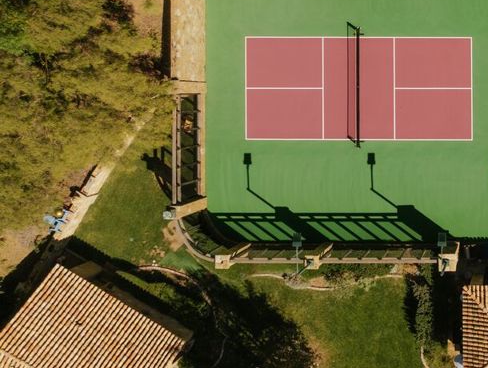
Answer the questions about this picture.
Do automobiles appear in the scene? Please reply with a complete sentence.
No, the picture doesn't show any automobile.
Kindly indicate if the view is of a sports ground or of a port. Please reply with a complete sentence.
What you see here is a sports ground.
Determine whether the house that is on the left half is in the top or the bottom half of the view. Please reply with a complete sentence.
It is in the bottom half that the house that is on the left half appears.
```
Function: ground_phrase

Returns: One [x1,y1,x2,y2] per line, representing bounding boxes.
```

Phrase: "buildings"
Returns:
[462,275,488,368]
[0,259,205,368]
